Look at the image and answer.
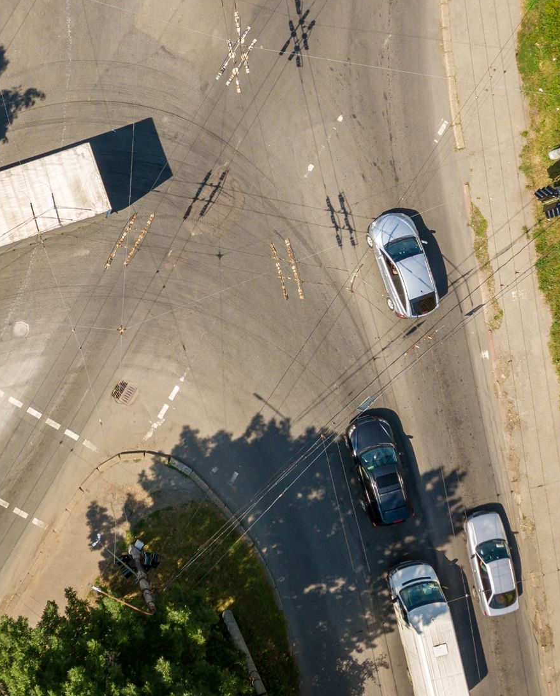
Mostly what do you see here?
paved ground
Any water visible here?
No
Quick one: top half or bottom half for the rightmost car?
bottom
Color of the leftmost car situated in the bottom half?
black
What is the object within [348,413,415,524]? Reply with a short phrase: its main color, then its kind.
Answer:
black car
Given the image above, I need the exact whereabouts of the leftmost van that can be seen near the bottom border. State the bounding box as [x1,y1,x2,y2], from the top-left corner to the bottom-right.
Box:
[389,561,473,696]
